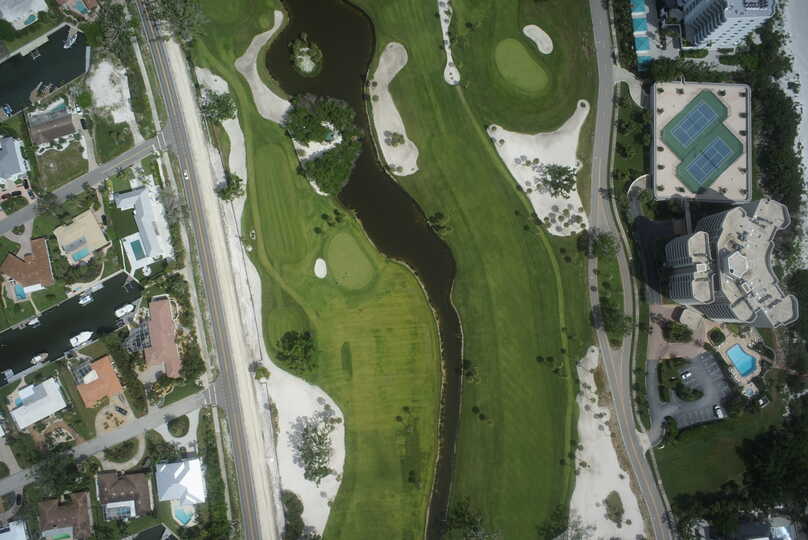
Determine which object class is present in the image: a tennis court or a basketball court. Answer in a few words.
tennis court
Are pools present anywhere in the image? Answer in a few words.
Yes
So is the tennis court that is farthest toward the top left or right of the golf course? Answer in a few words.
on its right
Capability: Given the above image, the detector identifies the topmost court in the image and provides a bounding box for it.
[671,100,717,148]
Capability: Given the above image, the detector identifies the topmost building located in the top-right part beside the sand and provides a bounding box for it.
[685,0,779,44]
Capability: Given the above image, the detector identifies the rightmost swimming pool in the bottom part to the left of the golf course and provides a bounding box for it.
[174,508,194,526]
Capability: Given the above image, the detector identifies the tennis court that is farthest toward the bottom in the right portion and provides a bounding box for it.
[686,137,734,184]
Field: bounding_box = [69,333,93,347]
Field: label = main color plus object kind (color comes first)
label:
white boat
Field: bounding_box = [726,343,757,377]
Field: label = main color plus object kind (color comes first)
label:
blue swimming pool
